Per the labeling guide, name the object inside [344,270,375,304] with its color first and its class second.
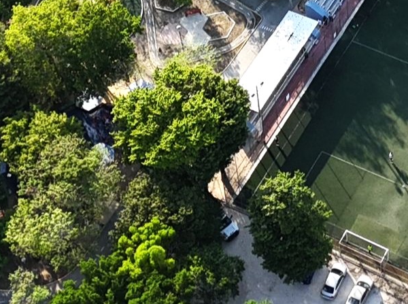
white car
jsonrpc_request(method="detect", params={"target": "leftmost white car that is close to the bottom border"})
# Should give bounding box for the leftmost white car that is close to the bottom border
[318,256,351,299]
